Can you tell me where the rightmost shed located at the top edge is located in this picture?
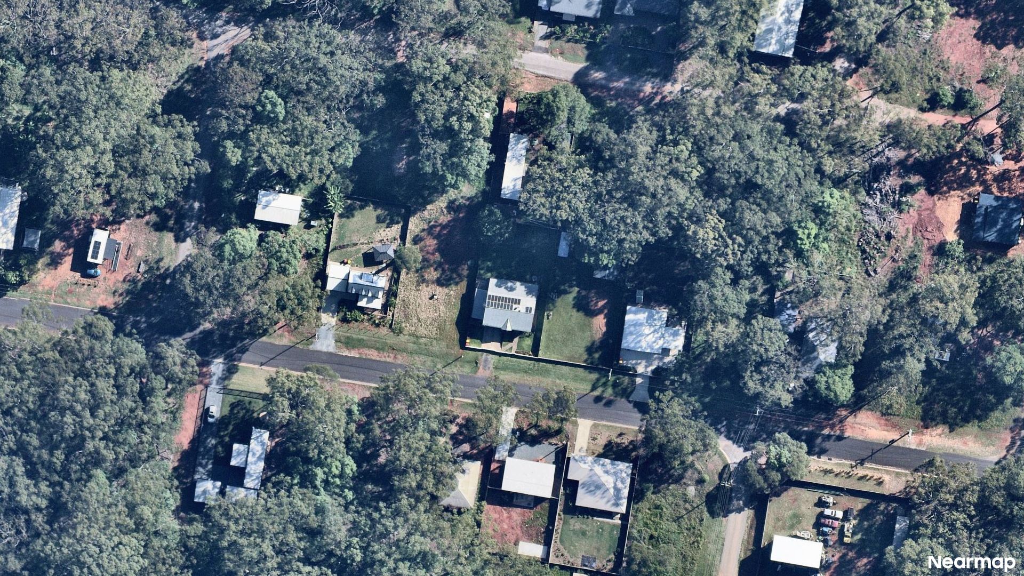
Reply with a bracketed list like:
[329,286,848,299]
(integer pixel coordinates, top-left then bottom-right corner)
[754,0,804,57]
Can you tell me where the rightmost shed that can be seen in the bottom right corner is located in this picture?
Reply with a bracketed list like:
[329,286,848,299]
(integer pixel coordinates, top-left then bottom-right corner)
[893,516,909,547]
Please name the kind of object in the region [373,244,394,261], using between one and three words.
gazebo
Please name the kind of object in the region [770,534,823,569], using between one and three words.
shed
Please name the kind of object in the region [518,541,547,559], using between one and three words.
shed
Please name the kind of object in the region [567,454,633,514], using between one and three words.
house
